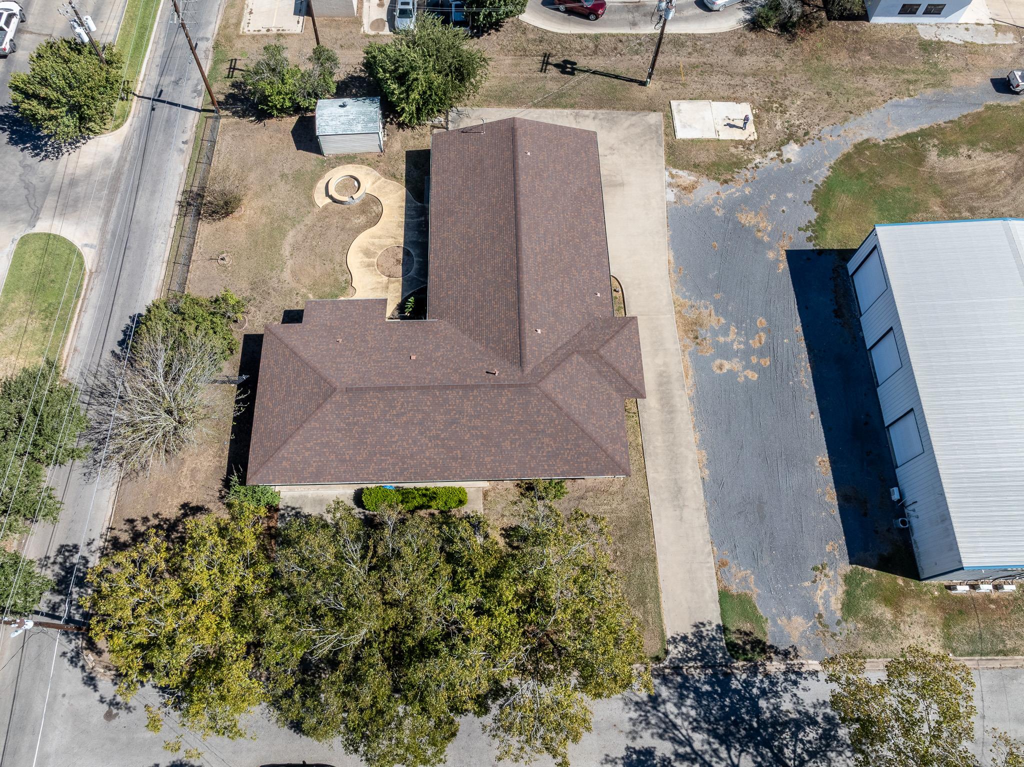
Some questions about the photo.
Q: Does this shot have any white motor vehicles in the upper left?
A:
Yes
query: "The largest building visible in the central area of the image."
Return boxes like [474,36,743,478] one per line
[244,118,647,488]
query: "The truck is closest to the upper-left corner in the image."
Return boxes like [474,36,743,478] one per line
[0,2,27,57]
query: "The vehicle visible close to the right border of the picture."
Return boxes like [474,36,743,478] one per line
[1003,71,1024,97]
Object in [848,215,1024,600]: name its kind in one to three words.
building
